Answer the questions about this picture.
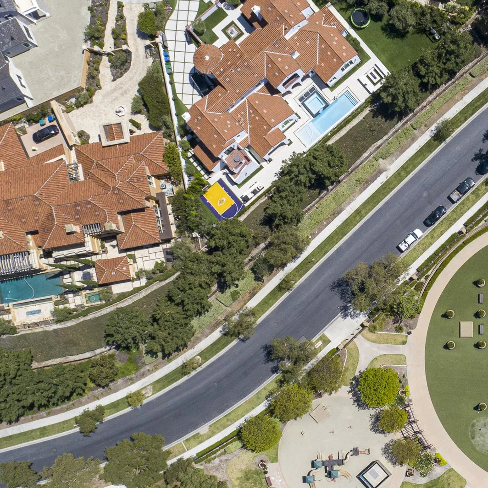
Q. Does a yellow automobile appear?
No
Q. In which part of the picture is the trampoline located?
top right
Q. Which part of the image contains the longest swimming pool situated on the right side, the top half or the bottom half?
top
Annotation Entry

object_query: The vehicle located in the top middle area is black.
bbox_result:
[187,67,209,94]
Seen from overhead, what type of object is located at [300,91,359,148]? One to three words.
swimming pool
